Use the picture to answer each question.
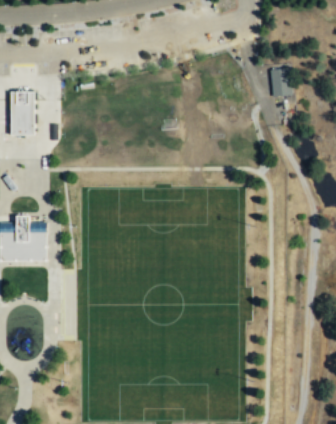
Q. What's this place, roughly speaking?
sports ground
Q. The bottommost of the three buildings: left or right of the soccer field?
on its left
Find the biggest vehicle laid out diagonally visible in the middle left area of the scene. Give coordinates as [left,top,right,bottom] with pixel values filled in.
[2,173,18,191]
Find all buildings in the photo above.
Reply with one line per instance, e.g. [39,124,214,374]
[11,88,36,135]
[272,68,295,96]
[0,215,50,262]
